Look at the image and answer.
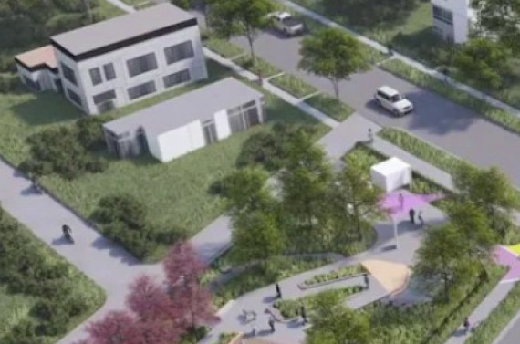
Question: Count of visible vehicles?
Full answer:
Looking from above, you can make out 2 vehicles.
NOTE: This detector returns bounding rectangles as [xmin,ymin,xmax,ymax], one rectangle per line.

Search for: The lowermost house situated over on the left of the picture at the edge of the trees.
[104,77,268,163]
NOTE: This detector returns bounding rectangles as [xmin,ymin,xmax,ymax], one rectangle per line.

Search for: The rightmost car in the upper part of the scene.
[373,83,414,113]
